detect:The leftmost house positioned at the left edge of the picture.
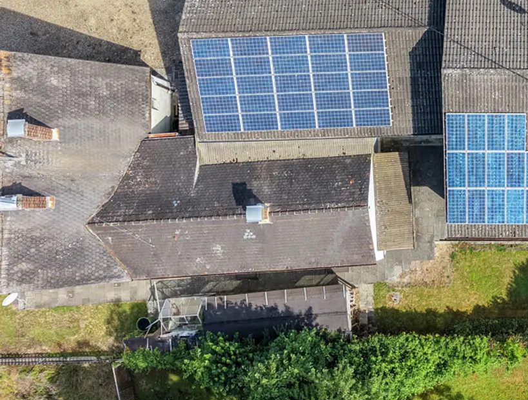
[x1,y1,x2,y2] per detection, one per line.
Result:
[0,48,176,287]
